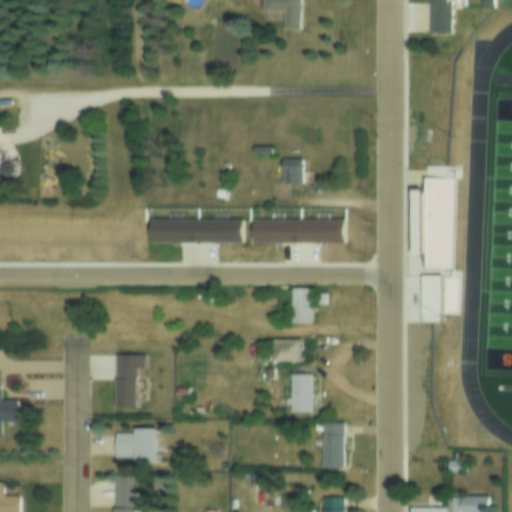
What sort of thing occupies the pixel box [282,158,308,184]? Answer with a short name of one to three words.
house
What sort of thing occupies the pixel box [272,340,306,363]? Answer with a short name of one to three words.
house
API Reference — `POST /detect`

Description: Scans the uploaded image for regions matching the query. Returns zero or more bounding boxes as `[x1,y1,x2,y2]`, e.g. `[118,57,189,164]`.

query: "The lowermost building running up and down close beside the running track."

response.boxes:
[421,274,444,323]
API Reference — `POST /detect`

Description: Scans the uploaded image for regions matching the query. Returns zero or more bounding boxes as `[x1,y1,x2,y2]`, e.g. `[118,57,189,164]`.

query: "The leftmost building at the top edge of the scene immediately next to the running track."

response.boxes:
[430,0,469,33]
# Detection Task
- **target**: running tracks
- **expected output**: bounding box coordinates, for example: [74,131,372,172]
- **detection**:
[462,24,512,456]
